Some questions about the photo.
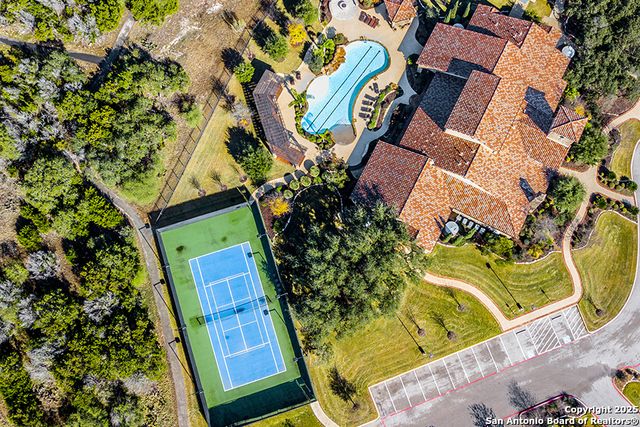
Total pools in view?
1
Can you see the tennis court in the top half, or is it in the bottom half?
bottom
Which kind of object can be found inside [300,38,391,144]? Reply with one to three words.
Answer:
swimming pool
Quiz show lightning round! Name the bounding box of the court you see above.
[158,203,314,427]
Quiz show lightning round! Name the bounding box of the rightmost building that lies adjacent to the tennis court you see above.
[345,8,588,252]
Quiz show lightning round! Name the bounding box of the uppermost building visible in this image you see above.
[383,0,416,28]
